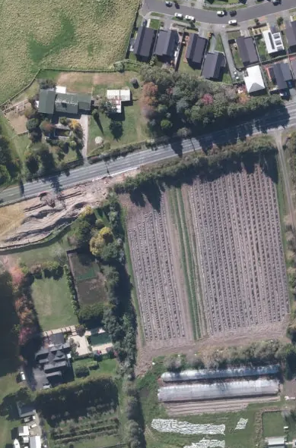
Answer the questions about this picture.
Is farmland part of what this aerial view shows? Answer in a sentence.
Yes, there's farmland in this view.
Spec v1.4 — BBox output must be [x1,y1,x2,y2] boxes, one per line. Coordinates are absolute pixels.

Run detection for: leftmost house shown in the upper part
[39,87,92,114]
